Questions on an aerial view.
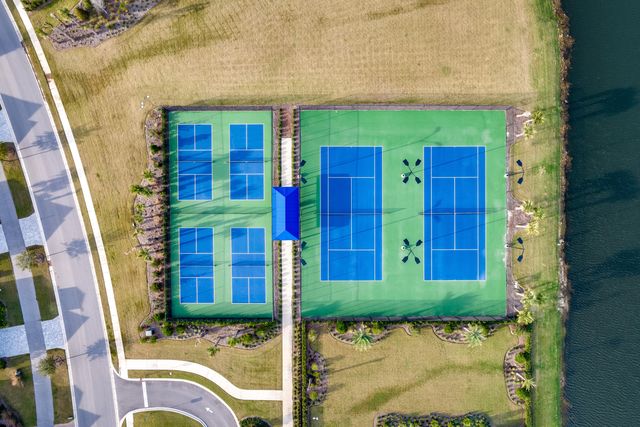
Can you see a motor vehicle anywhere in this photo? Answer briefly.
No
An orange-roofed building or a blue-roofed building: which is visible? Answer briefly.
blue-roofed building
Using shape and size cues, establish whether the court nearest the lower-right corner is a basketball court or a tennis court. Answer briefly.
tennis court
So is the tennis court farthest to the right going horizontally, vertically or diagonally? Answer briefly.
vertically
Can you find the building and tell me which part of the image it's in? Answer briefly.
center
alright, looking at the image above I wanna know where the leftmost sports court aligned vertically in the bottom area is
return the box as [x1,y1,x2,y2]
[179,228,214,303]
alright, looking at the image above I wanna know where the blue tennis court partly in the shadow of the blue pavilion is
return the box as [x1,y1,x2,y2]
[321,146,382,281]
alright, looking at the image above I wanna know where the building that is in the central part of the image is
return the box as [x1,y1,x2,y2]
[272,187,299,240]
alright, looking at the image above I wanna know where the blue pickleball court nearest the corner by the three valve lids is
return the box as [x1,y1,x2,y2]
[178,124,213,200]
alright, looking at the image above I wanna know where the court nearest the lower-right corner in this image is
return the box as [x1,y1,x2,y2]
[423,146,486,281]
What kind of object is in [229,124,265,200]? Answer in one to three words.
sports court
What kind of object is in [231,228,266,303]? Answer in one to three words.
sports court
